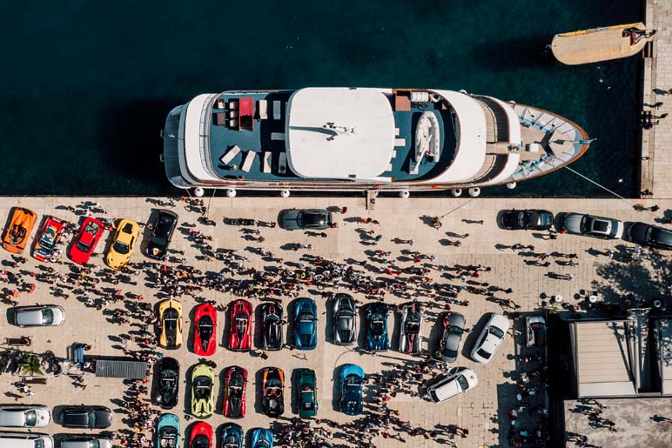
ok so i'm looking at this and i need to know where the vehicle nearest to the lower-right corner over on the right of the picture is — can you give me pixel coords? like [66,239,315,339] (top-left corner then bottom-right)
[524,310,550,352]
